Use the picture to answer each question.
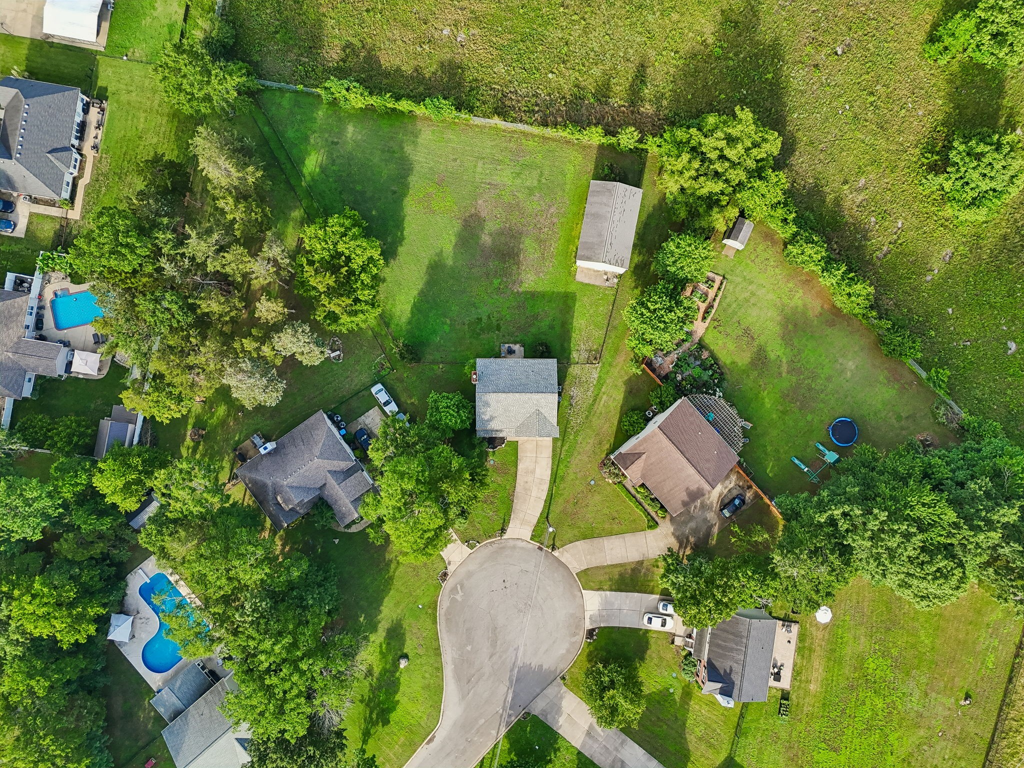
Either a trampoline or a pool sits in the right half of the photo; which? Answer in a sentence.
It is a trampoline that can be seen in the right half of the photo.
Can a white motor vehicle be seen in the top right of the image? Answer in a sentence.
No, no white motor vehicle appears in the top right of the image.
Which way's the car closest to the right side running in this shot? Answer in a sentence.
The car closest to the right side is laid out at an angle.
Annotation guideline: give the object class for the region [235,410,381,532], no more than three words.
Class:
house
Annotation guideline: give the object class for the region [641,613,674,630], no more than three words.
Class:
car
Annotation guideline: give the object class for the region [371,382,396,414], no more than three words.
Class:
car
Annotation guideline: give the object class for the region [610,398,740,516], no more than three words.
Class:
house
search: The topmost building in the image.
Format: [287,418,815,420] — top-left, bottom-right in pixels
[42,0,115,54]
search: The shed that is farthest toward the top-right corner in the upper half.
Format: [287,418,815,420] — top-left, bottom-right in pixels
[721,217,753,248]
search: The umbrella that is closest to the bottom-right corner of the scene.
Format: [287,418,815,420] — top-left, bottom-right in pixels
[815,606,832,623]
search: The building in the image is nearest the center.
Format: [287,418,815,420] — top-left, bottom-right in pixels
[471,358,559,437]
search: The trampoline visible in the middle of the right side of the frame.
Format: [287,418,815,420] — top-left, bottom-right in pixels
[823,418,858,446]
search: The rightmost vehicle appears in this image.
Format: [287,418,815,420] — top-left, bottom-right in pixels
[718,491,746,521]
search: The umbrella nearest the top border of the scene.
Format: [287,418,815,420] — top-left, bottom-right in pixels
[71,350,107,376]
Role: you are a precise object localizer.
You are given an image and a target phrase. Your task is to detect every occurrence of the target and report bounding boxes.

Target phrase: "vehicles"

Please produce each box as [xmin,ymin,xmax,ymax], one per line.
[653,599,685,617]
[354,427,374,458]
[641,613,674,630]
[0,198,19,214]
[0,217,18,233]
[371,382,396,414]
[718,491,746,521]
